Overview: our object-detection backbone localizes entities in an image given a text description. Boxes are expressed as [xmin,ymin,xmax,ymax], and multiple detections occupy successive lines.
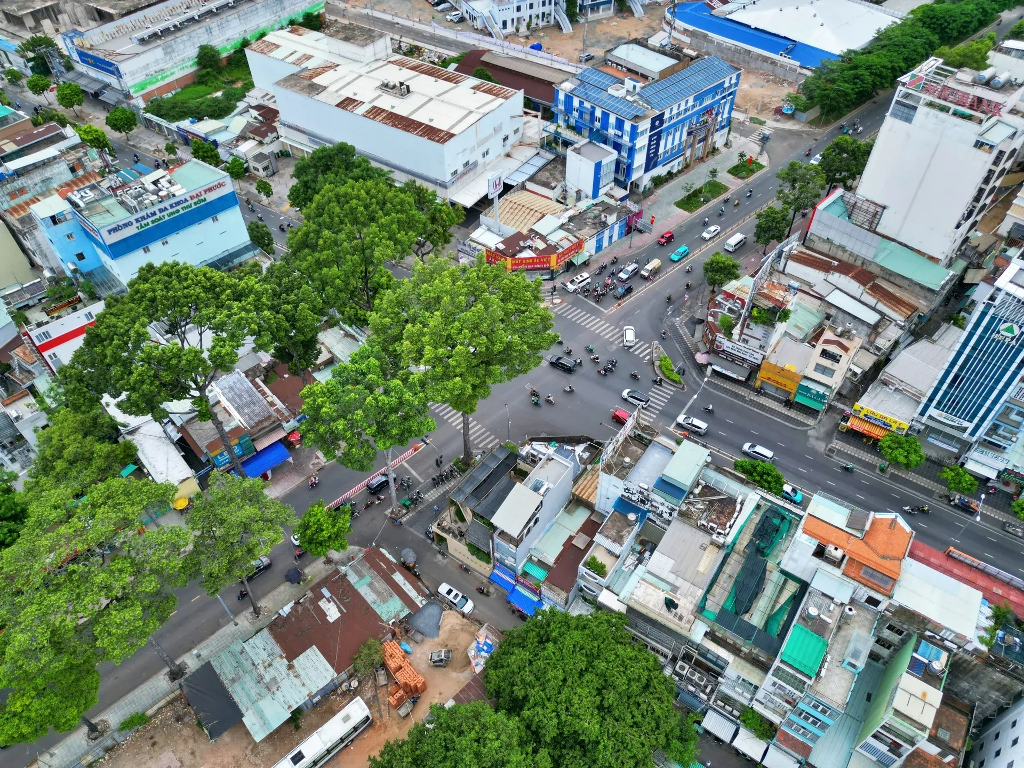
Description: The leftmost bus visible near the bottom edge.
[263,696,376,768]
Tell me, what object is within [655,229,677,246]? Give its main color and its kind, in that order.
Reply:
red car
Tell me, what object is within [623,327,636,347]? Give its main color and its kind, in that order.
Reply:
white vehicle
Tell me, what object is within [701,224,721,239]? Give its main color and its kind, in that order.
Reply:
white car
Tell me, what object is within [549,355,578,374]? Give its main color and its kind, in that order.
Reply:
black car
